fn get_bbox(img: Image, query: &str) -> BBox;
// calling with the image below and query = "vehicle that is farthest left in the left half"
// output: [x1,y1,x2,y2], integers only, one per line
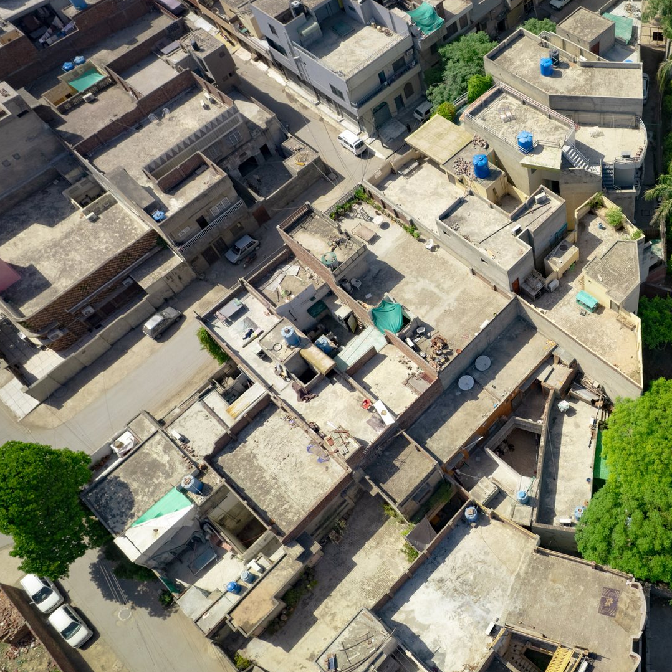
[19,573,65,617]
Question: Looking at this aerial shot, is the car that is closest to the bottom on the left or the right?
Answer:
left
